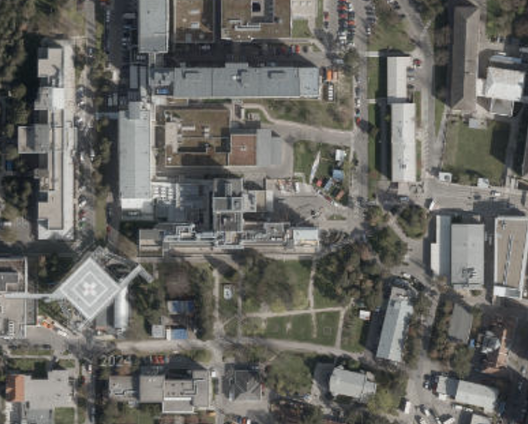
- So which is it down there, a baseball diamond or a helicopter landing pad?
helicopter landing pad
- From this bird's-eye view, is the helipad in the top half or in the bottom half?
bottom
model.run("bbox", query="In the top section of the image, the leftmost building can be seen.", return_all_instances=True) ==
[18,40,75,239]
